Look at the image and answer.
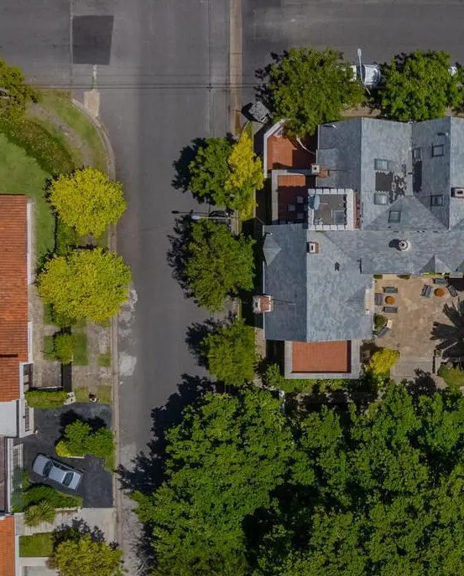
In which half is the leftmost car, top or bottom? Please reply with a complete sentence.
You can find the leftmost car in the bottom half.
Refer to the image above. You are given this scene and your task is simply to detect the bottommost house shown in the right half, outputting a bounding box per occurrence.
[251,117,464,379]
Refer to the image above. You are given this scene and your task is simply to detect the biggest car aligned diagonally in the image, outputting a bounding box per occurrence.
[30,452,85,492]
